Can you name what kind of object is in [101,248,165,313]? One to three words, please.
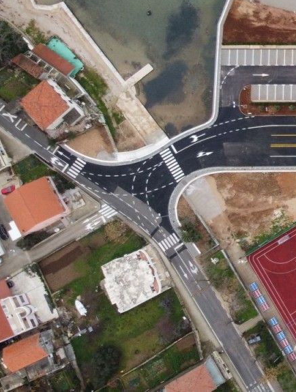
house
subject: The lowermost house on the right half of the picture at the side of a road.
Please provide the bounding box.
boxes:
[165,354,228,392]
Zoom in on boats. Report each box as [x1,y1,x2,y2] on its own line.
[73,303,86,317]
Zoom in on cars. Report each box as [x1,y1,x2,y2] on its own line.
[0,185,15,195]
[0,224,9,240]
